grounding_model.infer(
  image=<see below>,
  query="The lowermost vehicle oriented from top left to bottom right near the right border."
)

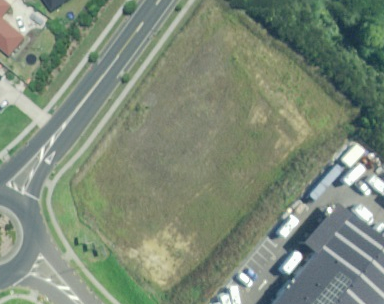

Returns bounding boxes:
[352,204,372,223]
